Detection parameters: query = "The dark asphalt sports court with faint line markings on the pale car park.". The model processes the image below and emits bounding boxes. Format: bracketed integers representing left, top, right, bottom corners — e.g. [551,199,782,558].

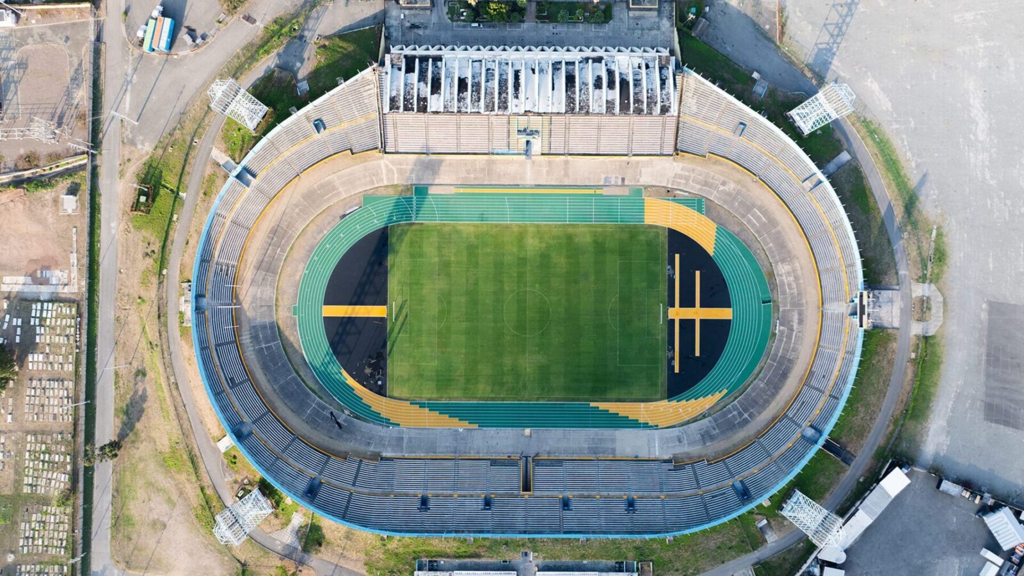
[982,301,1024,430]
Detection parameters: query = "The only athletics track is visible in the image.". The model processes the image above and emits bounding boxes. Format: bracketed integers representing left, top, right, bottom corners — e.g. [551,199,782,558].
[293,186,772,429]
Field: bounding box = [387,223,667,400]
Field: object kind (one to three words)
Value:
soccer field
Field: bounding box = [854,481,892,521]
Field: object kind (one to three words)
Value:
shed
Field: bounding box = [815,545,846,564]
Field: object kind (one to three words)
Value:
shed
